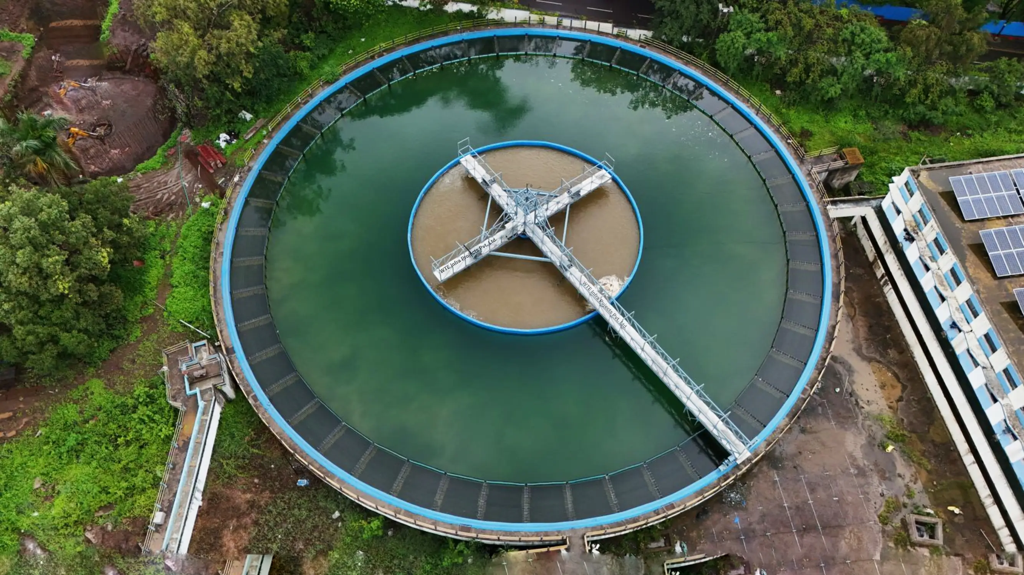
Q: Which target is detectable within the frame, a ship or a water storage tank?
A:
water storage tank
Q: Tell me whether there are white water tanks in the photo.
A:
No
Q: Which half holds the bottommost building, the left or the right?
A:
right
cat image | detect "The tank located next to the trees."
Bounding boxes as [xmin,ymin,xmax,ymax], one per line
[210,23,844,553]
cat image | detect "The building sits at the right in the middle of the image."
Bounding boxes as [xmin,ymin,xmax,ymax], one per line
[884,152,1024,484]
